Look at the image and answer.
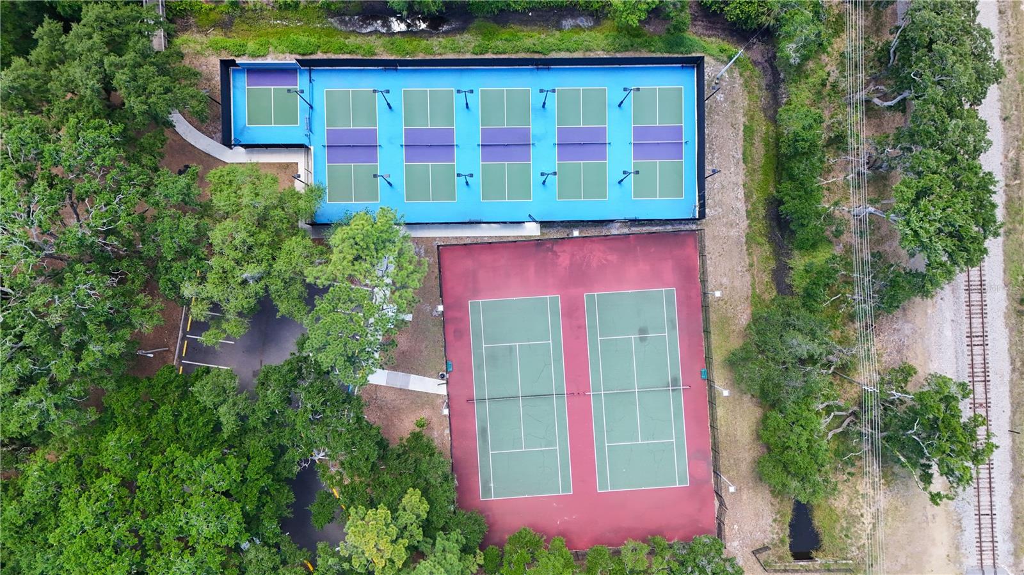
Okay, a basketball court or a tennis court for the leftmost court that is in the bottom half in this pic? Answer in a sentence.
The leftmost court that is in the bottom half in the image is a tennis court.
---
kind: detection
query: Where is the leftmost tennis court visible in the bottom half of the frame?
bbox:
[469,295,572,500]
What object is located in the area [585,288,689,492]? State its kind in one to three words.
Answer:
tennis court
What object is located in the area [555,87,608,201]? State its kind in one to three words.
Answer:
sports court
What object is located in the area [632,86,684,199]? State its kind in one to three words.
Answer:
sports court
